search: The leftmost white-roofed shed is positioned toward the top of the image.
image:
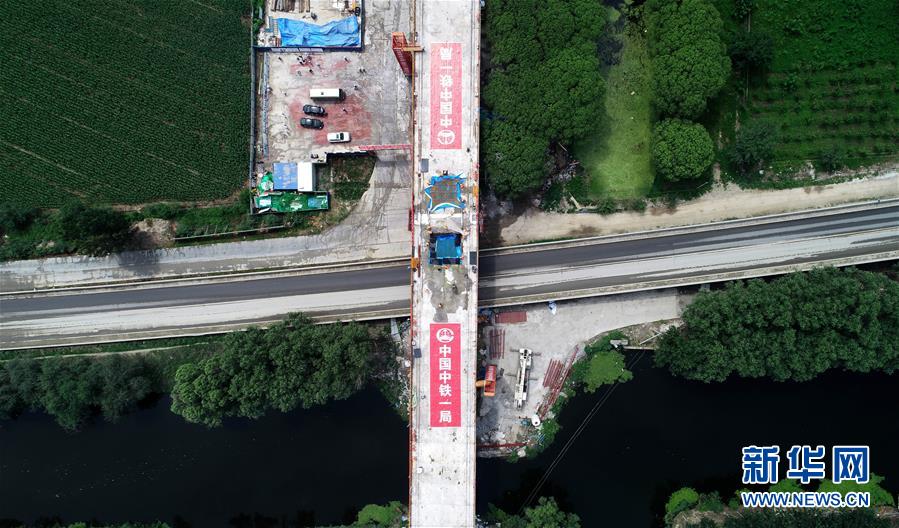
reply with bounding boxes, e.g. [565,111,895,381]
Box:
[298,162,318,192]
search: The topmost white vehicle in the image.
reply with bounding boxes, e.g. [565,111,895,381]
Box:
[309,88,345,102]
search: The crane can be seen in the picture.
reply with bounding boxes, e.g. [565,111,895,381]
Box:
[506,351,541,410]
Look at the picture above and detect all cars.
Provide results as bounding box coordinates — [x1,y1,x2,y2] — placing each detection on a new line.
[327,132,350,142]
[300,119,324,129]
[303,105,326,116]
